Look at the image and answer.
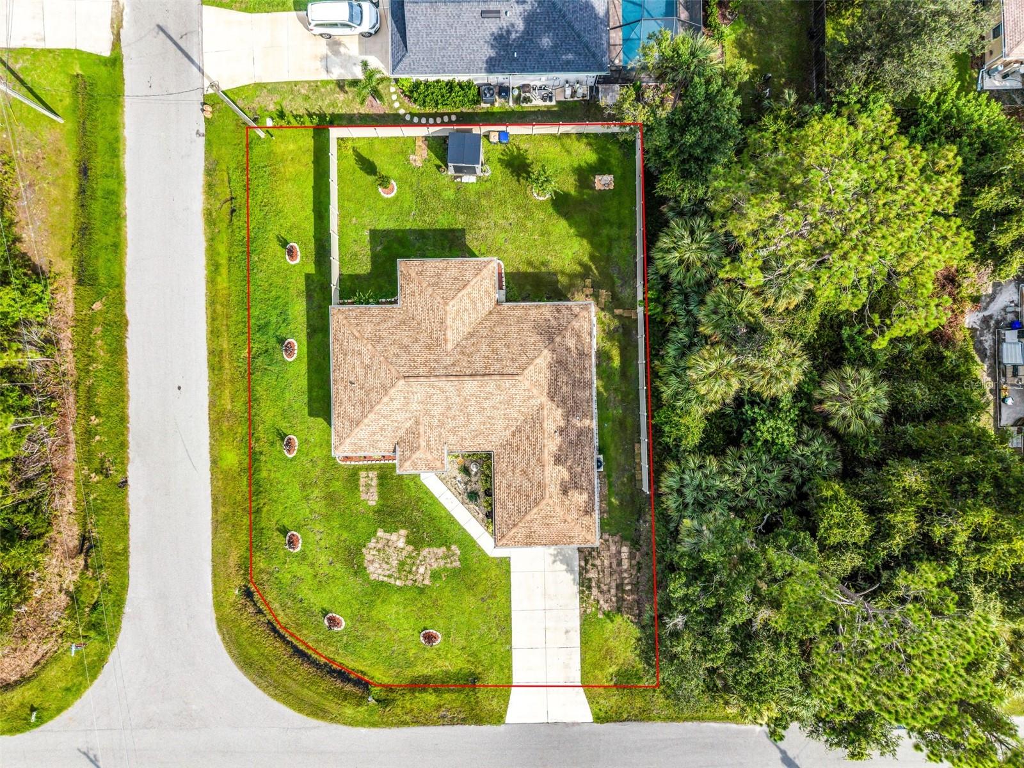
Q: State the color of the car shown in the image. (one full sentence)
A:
In this view, the car is white.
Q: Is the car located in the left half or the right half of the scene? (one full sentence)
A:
The car is on the left side of the image.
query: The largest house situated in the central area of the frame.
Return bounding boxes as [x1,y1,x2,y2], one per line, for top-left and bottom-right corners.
[331,259,597,547]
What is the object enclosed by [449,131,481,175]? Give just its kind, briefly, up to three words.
shed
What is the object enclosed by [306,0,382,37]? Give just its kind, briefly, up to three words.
car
